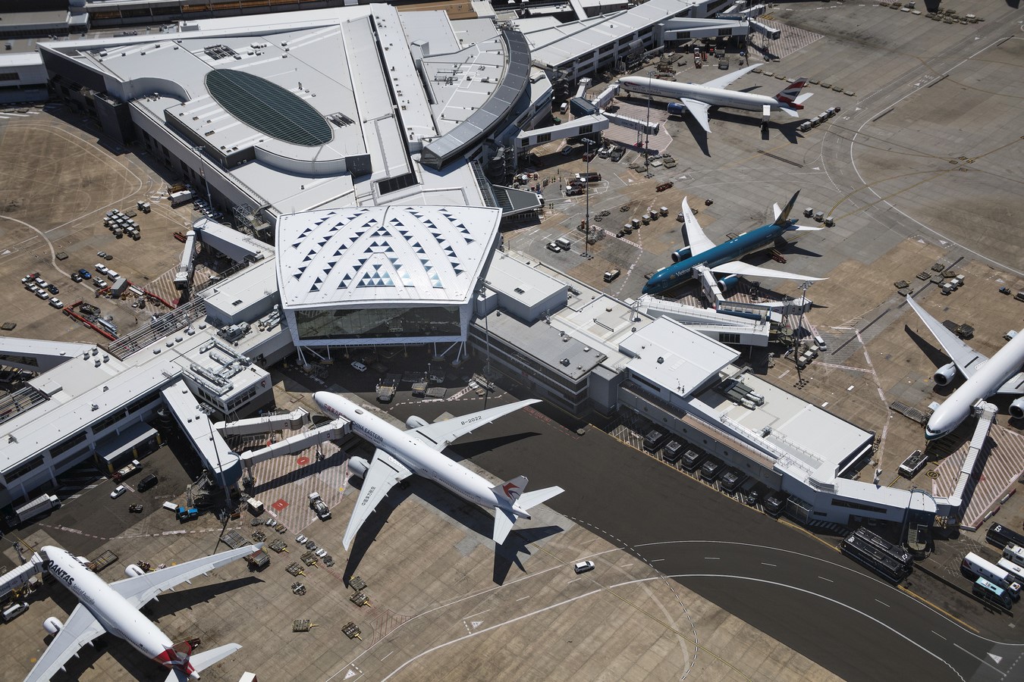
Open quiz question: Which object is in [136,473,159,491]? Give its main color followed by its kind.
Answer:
black vehicle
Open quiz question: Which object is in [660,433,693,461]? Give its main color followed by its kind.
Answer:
black bus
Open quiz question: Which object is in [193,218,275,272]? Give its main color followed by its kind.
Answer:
white jet bridge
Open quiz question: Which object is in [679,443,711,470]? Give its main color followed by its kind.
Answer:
black bus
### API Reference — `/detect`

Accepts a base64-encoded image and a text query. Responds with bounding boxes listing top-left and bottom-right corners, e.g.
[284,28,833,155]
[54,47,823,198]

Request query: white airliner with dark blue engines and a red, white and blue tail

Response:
[616,63,813,131]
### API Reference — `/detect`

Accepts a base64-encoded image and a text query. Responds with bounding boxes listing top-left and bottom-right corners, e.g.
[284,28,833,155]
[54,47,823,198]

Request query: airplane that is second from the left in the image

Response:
[312,391,564,551]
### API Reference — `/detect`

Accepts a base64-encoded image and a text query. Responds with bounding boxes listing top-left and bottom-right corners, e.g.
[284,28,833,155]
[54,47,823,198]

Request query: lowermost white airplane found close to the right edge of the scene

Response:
[908,283,1024,440]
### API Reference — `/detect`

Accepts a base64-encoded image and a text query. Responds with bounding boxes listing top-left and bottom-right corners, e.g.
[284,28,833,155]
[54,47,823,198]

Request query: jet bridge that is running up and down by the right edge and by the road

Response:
[950,402,1003,535]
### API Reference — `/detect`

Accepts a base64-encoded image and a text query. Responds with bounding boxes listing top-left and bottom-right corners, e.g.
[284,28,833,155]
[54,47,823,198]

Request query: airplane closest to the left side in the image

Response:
[25,540,265,682]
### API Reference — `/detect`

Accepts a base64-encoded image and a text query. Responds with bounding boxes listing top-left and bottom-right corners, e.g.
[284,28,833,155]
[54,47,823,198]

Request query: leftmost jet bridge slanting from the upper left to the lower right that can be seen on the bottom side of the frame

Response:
[161,379,242,508]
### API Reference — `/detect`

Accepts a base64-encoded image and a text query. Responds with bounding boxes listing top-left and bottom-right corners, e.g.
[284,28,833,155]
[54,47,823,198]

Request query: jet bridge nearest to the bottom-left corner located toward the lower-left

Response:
[0,550,53,605]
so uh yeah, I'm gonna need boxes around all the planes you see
[312,391,564,551]
[641,189,826,296]
[908,283,1024,440]
[25,540,265,682]
[616,63,813,131]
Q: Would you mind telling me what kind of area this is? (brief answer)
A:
airport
